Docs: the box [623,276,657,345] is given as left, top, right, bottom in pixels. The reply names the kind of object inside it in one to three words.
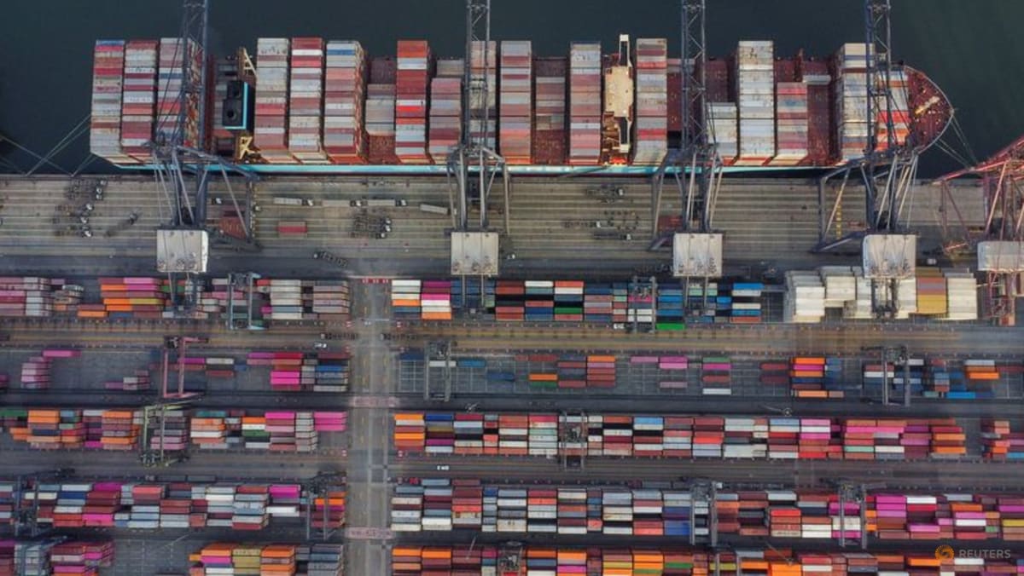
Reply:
container crane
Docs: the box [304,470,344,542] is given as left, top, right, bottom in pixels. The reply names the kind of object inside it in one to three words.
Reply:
container crane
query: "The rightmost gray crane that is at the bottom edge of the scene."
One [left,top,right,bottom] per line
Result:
[819,476,866,549]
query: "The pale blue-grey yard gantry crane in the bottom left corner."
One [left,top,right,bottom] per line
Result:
[19,532,74,576]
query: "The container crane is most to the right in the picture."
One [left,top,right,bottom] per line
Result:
[922,137,1024,318]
